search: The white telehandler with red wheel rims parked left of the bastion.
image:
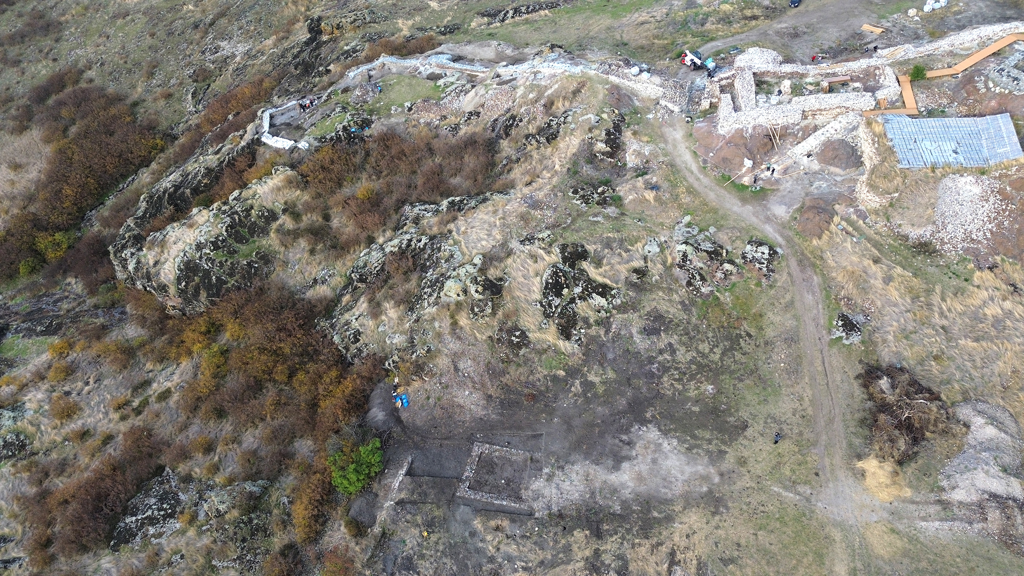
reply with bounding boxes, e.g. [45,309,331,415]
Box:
[677,48,717,77]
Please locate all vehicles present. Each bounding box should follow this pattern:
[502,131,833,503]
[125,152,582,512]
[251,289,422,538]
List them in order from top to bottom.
[791,0,803,8]
[677,48,717,77]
